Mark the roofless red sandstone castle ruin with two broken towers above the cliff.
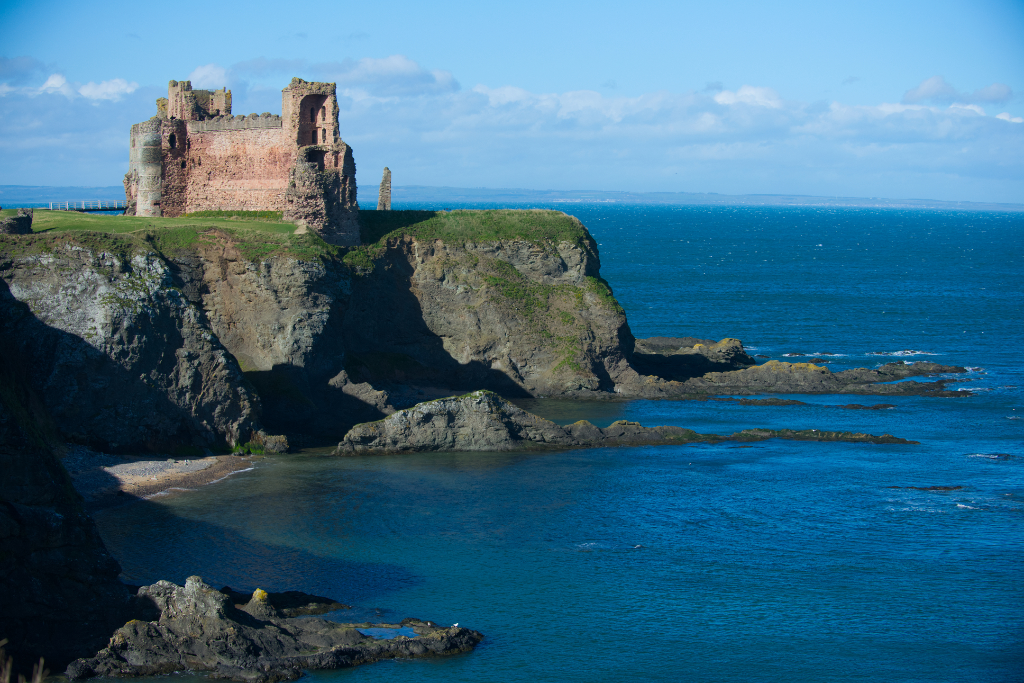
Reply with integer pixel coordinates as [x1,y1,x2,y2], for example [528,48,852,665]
[124,77,366,248]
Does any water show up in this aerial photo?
Yes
